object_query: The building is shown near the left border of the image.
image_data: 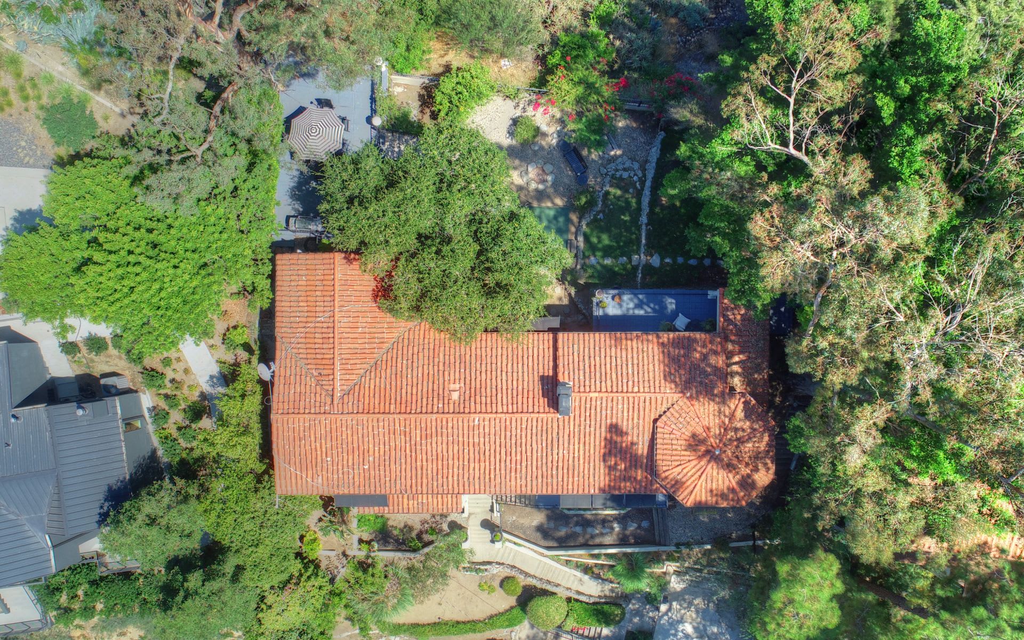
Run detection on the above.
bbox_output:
[0,340,159,588]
